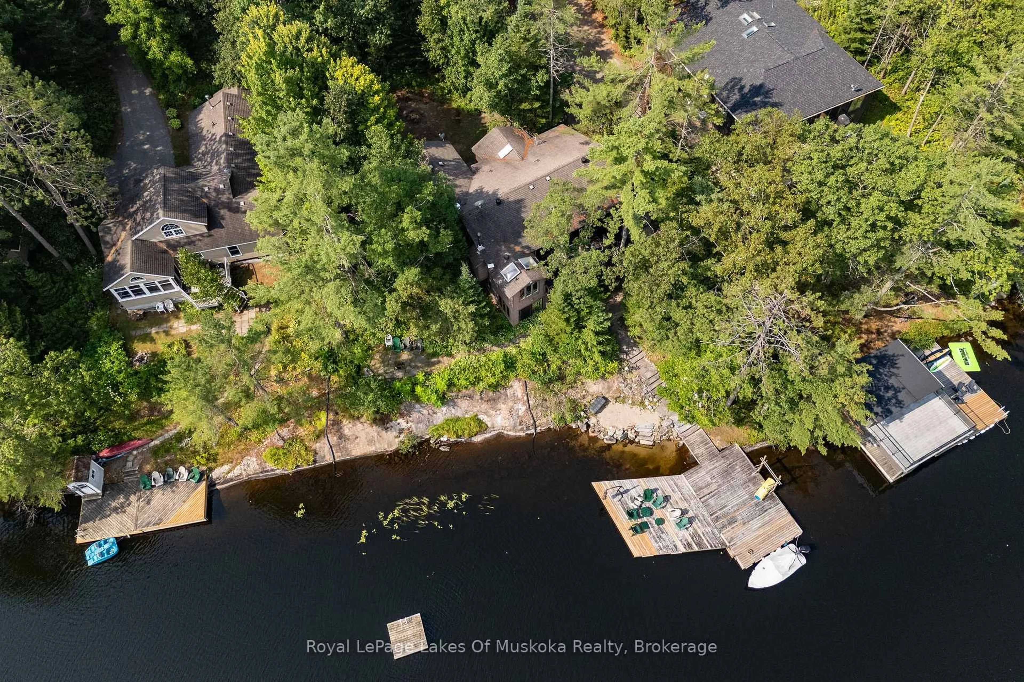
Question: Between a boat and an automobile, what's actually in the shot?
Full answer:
It is a boat that can be seen here.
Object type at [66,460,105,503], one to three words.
shed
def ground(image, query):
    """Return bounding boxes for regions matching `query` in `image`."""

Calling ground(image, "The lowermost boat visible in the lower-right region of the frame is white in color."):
[749,539,809,587]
